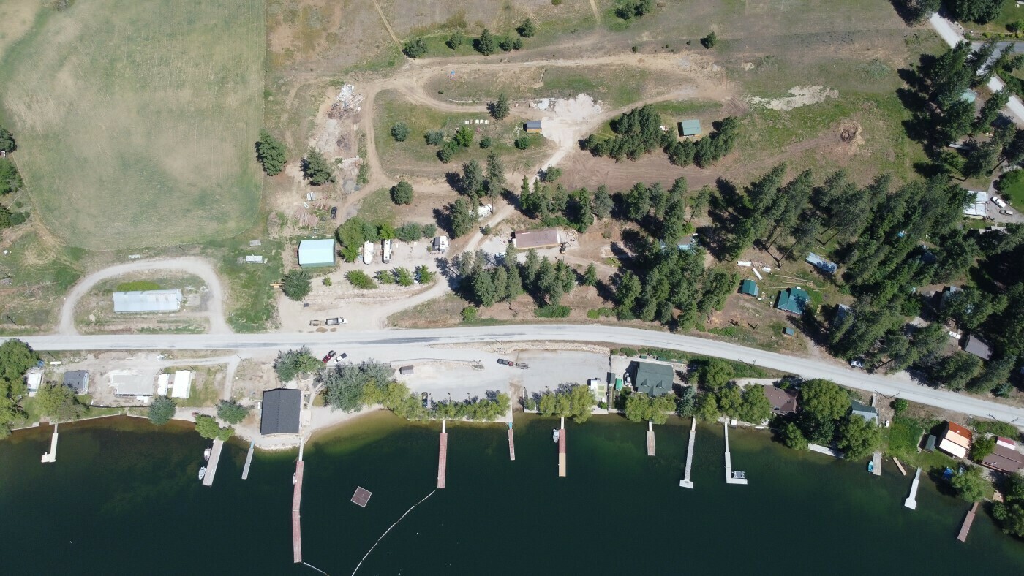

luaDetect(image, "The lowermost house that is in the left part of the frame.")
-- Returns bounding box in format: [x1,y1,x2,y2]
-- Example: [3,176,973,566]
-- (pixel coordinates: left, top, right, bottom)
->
[260,389,303,436]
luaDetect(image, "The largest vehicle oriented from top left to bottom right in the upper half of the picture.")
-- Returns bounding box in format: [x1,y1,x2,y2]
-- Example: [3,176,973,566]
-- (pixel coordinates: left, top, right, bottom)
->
[990,195,1008,209]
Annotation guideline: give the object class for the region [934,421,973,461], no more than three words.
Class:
building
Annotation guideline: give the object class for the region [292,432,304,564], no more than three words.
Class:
pier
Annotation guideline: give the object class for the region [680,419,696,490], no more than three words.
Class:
pier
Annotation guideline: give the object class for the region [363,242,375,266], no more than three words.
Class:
vehicle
